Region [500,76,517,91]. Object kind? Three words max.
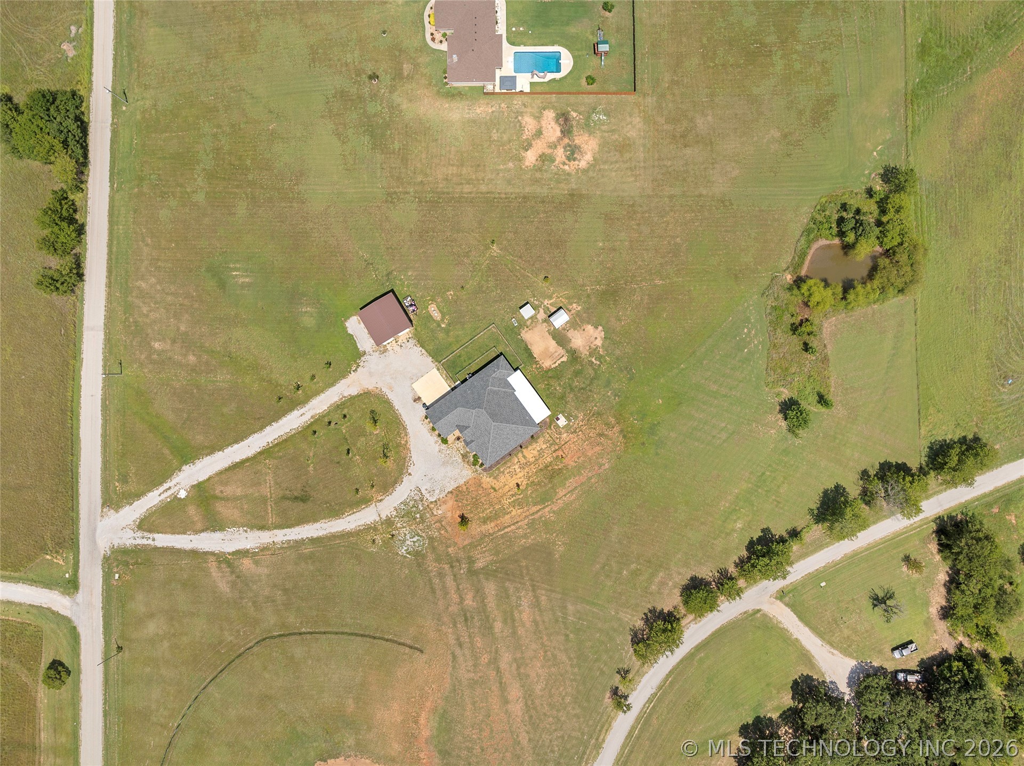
gazebo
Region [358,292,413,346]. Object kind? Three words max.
building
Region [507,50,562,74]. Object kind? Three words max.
swimming pool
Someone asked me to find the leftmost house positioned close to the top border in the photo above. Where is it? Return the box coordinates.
[435,0,503,86]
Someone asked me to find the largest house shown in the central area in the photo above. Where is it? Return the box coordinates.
[426,355,551,467]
